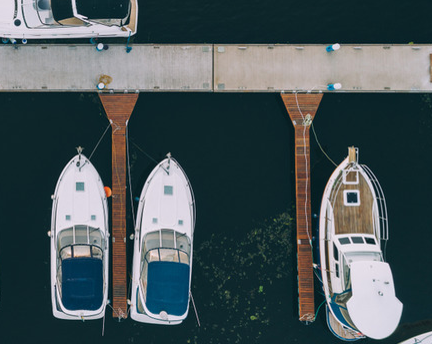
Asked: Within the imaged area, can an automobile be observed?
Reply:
No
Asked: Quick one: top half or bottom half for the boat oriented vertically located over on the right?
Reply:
bottom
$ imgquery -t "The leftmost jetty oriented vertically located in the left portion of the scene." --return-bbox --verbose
[98,91,139,321]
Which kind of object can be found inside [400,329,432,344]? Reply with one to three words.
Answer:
boat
